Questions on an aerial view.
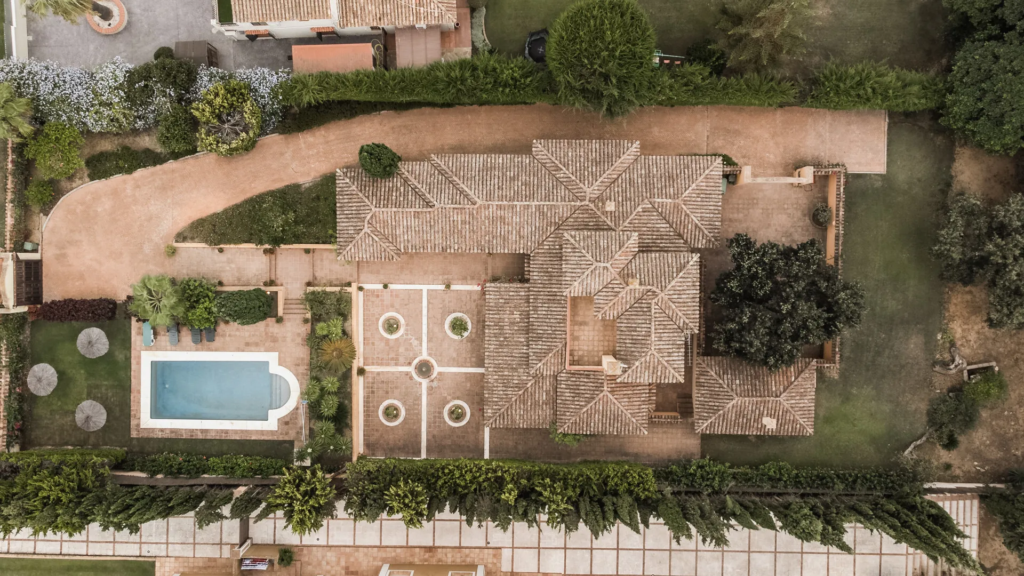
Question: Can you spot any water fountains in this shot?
Yes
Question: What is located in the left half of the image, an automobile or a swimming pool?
swimming pool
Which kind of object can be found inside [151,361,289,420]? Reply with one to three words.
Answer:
swimming pool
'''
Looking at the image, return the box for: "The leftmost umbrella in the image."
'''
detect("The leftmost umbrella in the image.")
[29,363,66,394]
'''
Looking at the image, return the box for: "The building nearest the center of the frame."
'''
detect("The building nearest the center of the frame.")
[335,138,724,435]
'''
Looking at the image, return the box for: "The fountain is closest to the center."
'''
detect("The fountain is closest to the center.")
[411,356,438,383]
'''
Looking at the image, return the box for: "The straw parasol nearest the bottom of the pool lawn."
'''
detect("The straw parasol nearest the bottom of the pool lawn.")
[77,399,112,431]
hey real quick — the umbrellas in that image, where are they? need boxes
[78,325,114,359]
[29,363,66,394]
[77,399,112,431]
